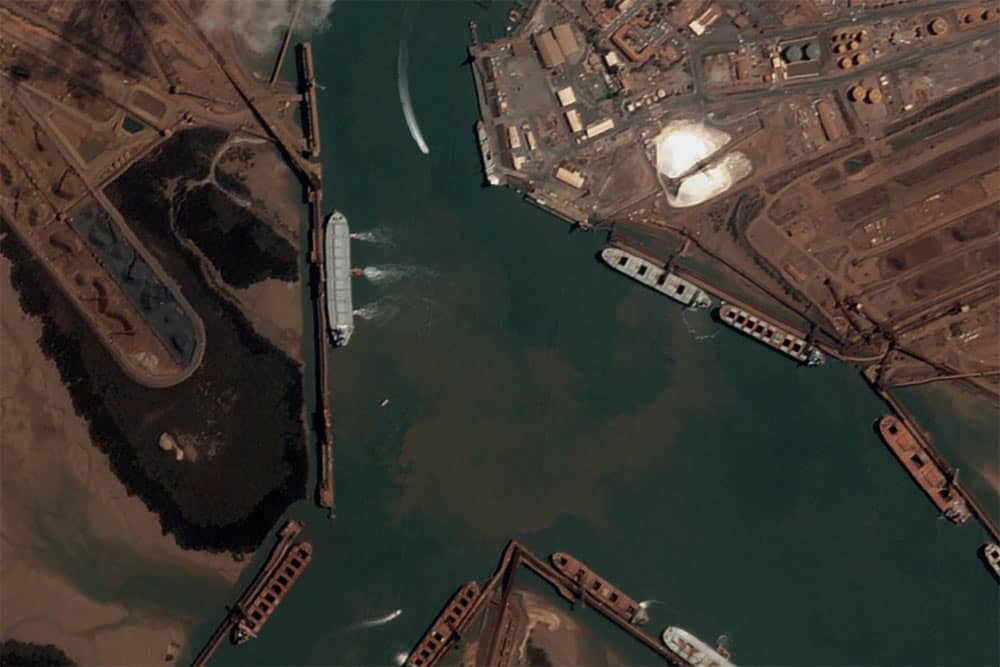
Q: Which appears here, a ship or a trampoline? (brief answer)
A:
ship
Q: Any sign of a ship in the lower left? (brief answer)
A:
Yes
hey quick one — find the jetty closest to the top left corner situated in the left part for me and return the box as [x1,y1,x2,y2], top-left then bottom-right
[302,42,320,155]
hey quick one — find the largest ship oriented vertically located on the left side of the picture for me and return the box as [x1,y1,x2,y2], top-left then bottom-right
[326,211,354,348]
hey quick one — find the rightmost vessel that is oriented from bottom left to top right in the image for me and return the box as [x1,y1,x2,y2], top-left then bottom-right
[401,581,479,667]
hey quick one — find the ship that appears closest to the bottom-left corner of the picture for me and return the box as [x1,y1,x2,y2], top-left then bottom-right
[232,542,312,645]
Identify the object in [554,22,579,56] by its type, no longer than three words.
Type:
building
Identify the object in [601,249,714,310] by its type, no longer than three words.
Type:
ship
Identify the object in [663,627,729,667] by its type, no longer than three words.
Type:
ship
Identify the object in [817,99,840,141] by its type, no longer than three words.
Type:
shed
